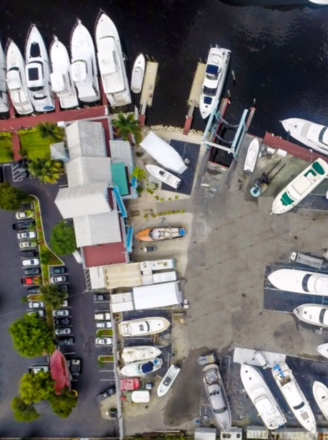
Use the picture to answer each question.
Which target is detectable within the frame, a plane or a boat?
boat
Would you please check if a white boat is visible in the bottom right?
Yes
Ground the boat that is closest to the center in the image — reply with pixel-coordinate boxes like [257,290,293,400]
[135,227,187,242]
